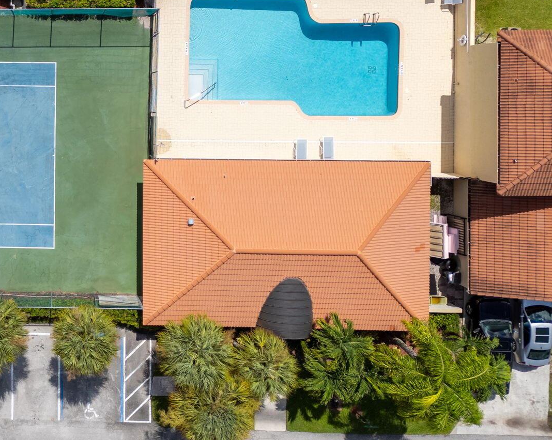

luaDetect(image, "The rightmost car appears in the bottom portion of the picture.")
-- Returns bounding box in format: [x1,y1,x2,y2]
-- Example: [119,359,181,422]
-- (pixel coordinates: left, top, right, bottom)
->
[518,301,552,370]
